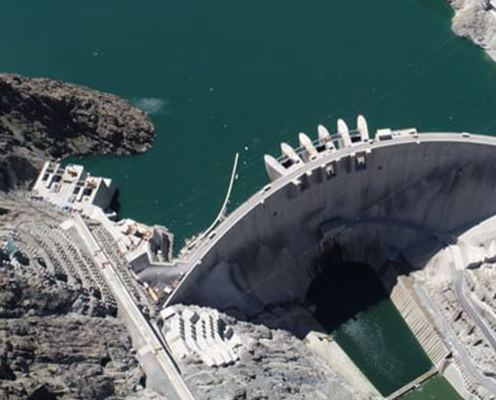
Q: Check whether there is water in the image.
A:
Yes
